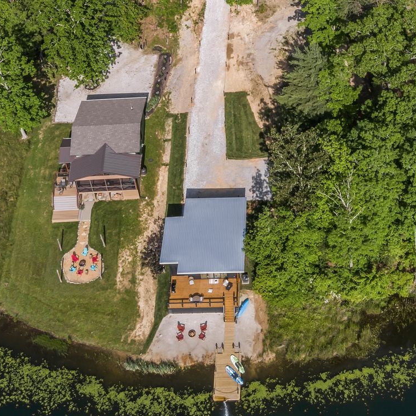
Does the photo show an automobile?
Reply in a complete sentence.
No, the photo shows no automobile.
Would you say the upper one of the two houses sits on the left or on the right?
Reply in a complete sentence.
The upper one of the two houses is on the left side of the image.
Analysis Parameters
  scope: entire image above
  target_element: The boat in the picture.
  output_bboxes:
[235,297,249,329]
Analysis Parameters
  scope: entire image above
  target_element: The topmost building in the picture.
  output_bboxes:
[54,101,147,201]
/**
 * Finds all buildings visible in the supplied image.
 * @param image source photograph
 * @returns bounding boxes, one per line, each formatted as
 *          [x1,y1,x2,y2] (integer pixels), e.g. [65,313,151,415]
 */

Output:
[159,197,250,292]
[54,101,147,201]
